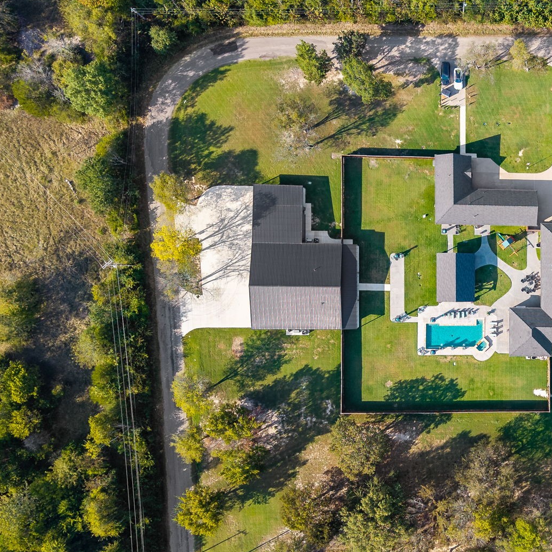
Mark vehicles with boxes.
[440,63,451,88]
[452,69,464,91]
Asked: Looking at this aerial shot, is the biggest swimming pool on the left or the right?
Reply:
right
